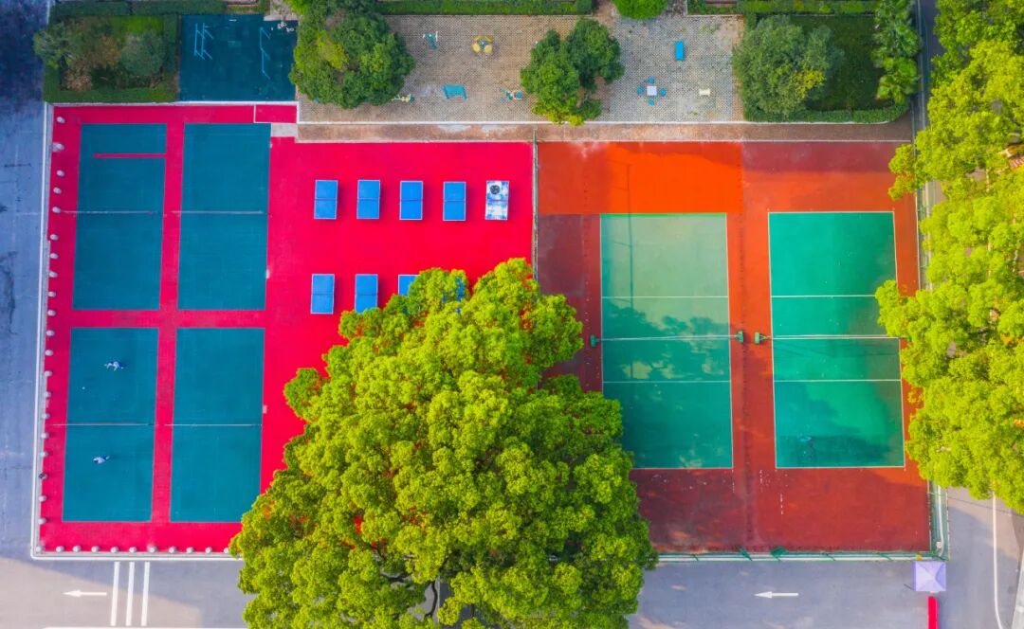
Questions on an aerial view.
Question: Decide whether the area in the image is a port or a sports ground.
sports ground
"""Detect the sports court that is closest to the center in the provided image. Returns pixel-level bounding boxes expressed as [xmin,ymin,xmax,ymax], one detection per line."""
[601,214,732,468]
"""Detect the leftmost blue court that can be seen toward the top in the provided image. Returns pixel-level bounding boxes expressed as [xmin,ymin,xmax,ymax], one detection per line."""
[72,124,166,310]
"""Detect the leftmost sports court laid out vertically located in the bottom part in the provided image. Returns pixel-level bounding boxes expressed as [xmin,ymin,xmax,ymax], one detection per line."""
[62,329,158,522]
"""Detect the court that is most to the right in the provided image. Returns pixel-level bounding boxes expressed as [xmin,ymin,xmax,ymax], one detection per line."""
[768,212,904,467]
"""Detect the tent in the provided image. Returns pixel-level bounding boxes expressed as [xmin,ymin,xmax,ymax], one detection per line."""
[888,554,945,592]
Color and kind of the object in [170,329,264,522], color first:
blue sports court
